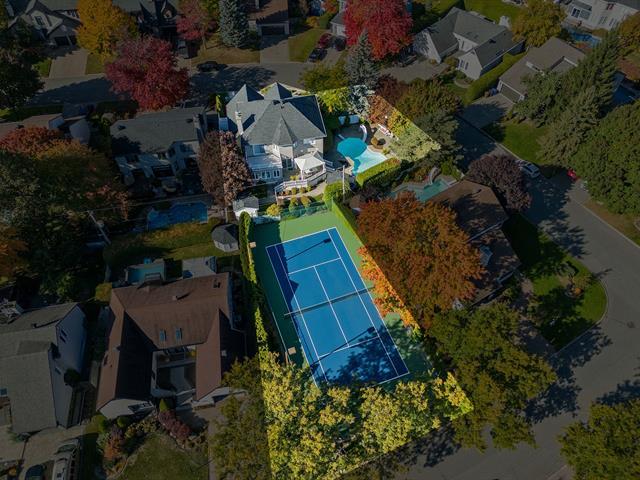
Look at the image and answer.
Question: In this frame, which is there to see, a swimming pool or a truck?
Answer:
swimming pool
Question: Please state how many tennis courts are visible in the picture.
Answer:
1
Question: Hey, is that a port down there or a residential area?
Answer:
residential area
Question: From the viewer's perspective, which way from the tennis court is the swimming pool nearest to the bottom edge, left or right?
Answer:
to the left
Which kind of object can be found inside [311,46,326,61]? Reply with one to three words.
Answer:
car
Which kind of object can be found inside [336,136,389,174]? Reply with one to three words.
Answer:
swimming pool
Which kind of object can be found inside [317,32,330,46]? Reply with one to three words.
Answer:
vehicle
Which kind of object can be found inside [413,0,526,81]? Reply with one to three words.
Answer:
house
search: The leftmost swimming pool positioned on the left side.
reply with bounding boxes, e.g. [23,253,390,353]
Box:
[126,261,168,286]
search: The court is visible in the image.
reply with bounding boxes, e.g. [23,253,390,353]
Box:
[249,199,453,460]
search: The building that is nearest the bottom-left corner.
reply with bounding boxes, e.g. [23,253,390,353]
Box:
[0,304,92,436]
